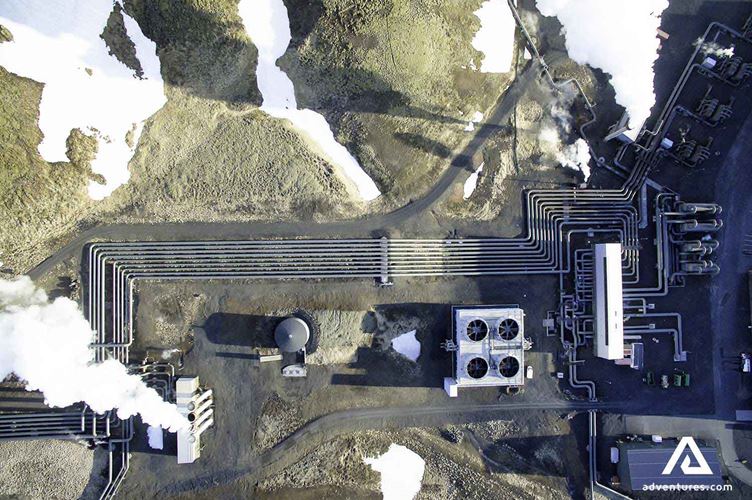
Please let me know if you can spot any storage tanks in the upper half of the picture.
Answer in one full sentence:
No, no storage tank can be made out in the upper half of the picture.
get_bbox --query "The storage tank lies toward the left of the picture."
[273,315,311,353]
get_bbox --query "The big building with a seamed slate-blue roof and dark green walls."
[614,438,723,491]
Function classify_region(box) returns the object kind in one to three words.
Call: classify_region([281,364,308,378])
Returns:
building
